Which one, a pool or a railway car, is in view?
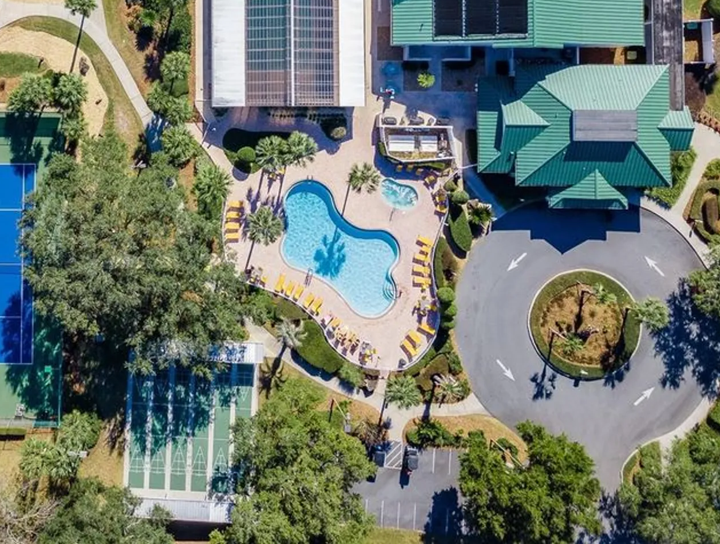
pool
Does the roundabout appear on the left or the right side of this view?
right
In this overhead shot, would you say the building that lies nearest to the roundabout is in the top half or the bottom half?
top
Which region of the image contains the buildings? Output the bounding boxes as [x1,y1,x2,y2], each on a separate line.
[471,64,694,208]
[212,0,366,109]
[389,0,644,49]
